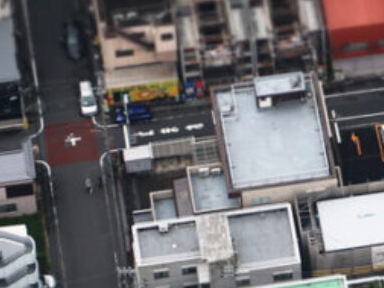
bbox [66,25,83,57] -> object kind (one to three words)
car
